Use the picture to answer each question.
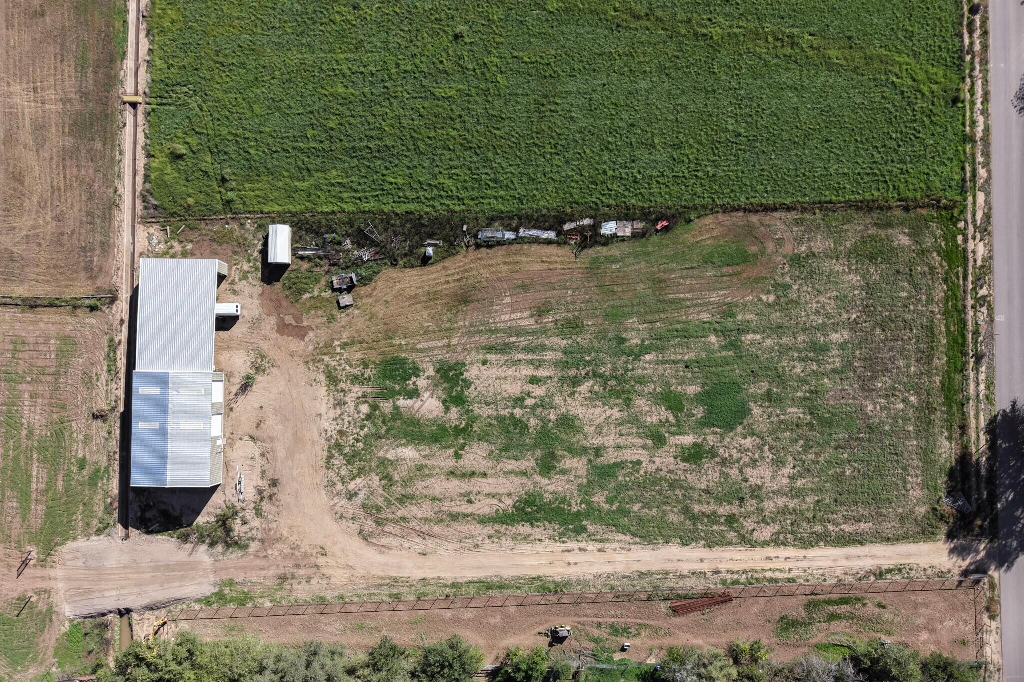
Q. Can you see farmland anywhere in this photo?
Yes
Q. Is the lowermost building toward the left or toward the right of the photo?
left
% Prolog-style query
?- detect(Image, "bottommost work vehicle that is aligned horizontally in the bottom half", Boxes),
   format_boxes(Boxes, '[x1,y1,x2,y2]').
[540,623,572,640]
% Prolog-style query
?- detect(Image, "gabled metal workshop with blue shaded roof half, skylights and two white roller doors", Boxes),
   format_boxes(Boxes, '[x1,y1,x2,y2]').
[130,371,224,487]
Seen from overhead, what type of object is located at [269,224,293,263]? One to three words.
shed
